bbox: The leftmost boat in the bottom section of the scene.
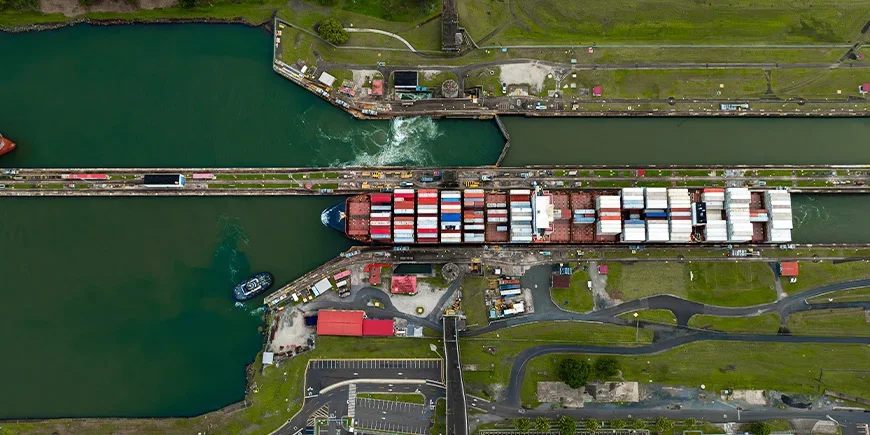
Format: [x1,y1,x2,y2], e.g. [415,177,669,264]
[233,273,274,299]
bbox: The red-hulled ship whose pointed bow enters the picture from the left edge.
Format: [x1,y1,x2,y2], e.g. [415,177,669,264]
[0,137,23,159]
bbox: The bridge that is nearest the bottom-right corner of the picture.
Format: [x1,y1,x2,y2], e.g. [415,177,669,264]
[443,314,466,435]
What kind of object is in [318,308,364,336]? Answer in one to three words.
building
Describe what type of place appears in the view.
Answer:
port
